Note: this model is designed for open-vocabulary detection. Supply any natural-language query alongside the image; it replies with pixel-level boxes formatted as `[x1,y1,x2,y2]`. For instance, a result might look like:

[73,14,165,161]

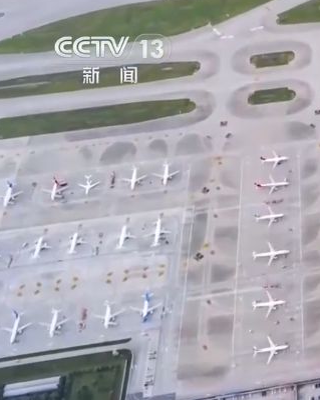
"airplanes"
[42,178,69,199]
[79,174,101,195]
[256,174,289,194]
[253,289,285,316]
[0,184,23,205]
[132,294,163,321]
[93,302,124,329]
[261,149,288,167]
[22,237,52,258]
[142,218,171,246]
[0,311,32,342]
[122,168,148,189]
[154,163,179,184]
[58,233,87,254]
[39,309,70,337]
[255,205,284,227]
[107,226,135,247]
[253,240,290,265]
[254,332,288,363]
